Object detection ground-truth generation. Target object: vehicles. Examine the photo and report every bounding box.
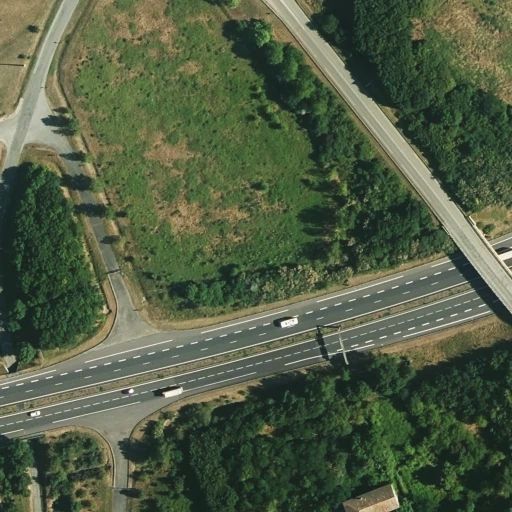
[124,389,133,394]
[498,250,512,260]
[30,410,42,416]
[162,386,183,398]
[280,318,297,327]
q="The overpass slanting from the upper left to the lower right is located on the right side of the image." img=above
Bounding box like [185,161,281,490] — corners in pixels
[434,200,512,316]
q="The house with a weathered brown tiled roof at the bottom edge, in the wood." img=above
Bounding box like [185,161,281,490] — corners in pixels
[342,484,400,512]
